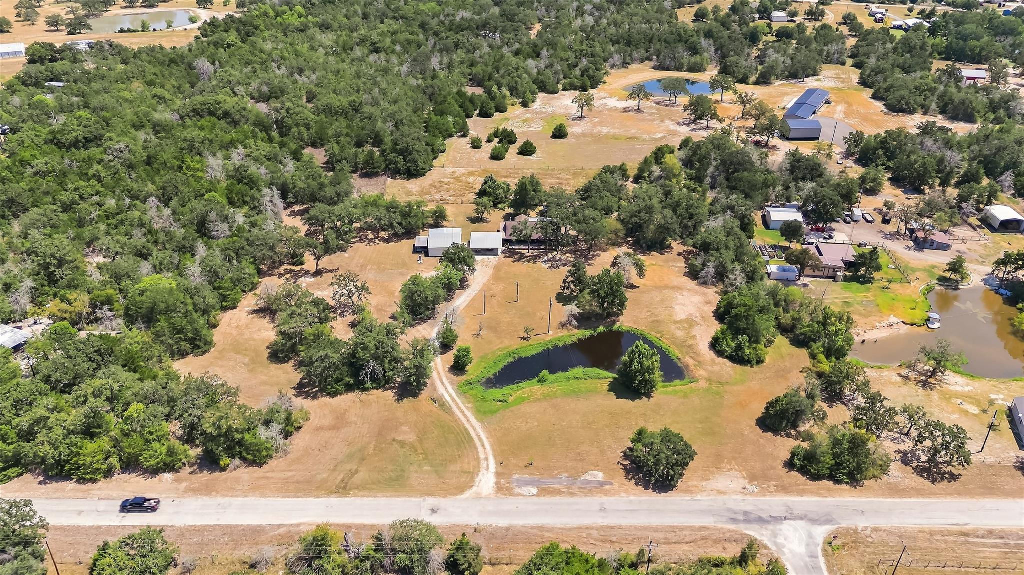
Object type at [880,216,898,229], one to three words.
vehicle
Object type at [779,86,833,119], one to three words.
house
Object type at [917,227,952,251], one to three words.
building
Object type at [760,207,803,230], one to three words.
shed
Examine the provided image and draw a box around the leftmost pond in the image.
[86,10,193,33]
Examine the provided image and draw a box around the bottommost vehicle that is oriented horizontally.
[113,495,160,513]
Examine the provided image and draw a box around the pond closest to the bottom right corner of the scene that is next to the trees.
[851,286,1024,378]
